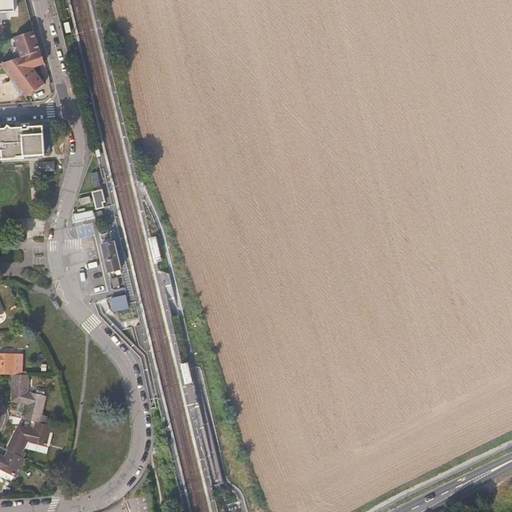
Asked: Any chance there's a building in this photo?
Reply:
Yes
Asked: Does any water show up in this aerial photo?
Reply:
No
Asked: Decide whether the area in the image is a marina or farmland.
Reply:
farmland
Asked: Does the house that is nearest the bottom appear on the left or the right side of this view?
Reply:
left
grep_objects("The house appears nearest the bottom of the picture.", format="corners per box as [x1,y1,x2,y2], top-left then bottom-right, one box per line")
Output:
[0,421,52,482]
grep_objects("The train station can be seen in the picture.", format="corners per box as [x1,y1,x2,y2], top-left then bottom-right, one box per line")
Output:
[88,0,219,512]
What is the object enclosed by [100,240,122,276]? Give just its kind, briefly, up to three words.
house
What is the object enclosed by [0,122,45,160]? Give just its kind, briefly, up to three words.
building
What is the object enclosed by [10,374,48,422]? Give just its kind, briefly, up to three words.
house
